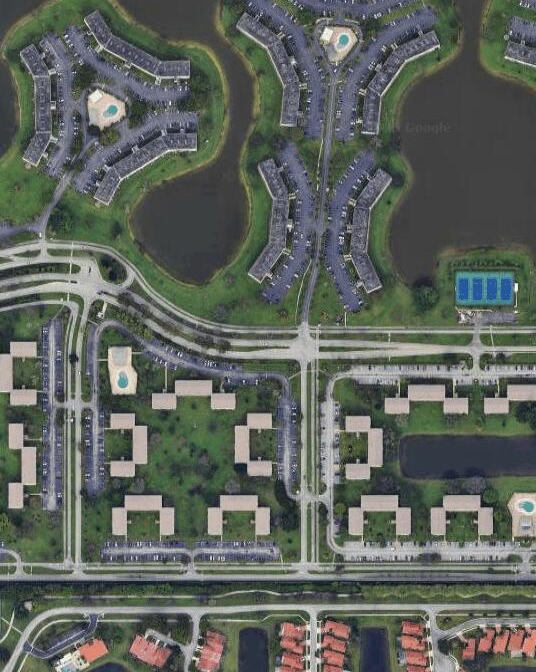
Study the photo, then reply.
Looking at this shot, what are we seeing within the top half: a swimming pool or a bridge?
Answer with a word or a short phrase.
swimming pool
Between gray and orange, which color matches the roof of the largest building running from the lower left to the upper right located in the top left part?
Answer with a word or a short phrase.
gray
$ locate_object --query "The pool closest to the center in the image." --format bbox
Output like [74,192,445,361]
[108,348,137,395]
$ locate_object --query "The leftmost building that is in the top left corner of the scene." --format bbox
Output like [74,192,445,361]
[19,43,58,165]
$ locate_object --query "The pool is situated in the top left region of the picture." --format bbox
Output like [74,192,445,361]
[88,89,126,130]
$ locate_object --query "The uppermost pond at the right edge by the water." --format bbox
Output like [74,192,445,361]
[399,435,536,477]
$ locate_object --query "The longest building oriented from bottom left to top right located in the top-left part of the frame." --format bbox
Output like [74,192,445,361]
[91,127,198,205]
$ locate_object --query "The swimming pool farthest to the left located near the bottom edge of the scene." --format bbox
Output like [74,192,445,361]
[56,652,90,672]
